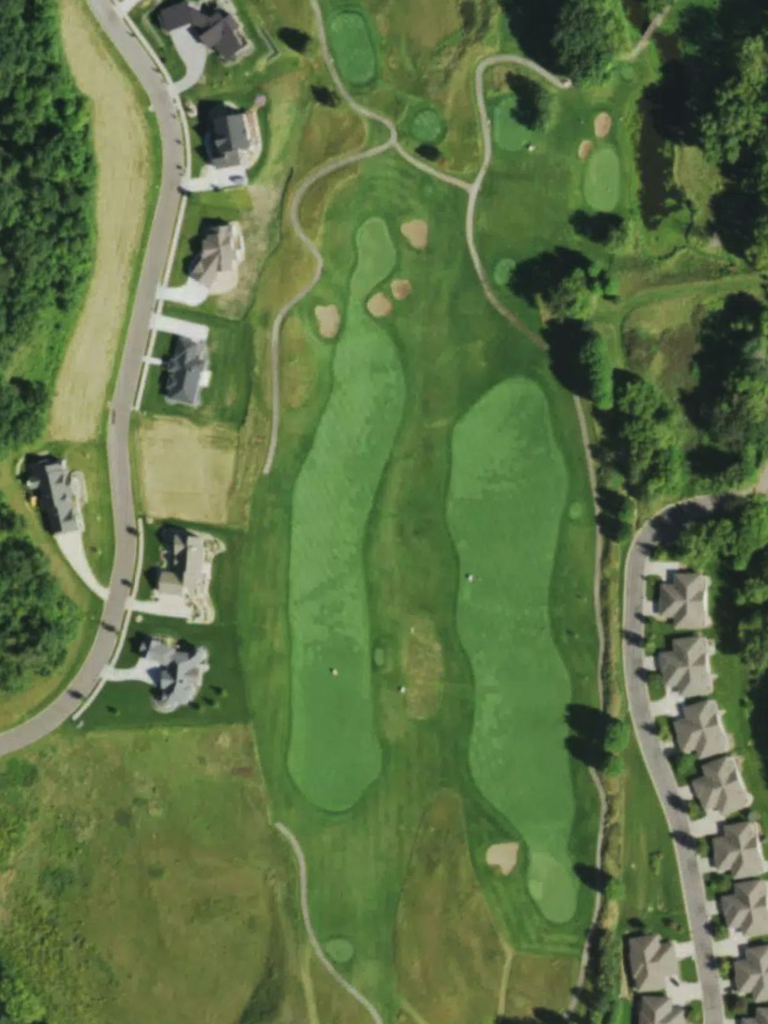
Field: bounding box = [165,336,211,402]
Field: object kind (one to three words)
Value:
house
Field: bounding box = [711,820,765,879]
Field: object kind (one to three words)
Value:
house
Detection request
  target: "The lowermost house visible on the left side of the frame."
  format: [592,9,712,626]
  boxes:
[145,637,211,711]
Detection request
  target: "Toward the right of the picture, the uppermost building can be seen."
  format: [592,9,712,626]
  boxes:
[658,573,708,628]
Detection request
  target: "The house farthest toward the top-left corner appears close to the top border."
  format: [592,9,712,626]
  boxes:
[158,1,240,59]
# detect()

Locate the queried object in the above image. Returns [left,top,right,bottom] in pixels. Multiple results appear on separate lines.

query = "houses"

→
[158,1,240,59]
[145,637,211,711]
[660,637,712,695]
[720,880,768,939]
[734,946,768,1003]
[711,820,765,879]
[671,698,727,759]
[691,757,748,818]
[658,573,708,628]
[207,111,251,170]
[165,336,211,402]
[156,534,204,595]
[24,457,79,534]
[188,225,234,288]
[636,995,686,1024]
[623,935,675,993]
